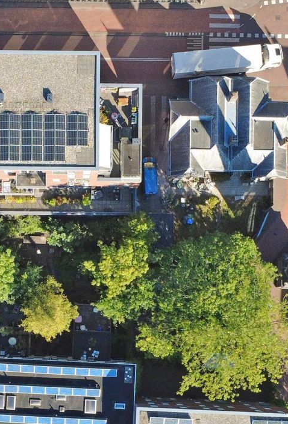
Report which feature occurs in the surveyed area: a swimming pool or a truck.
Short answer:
truck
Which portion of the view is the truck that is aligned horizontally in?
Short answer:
top right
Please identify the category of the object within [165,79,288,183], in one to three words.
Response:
house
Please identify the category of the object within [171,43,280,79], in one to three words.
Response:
truck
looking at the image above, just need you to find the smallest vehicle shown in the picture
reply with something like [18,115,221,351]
[142,159,158,197]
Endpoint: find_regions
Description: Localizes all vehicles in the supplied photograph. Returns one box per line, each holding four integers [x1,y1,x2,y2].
[142,159,158,197]
[171,43,280,79]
